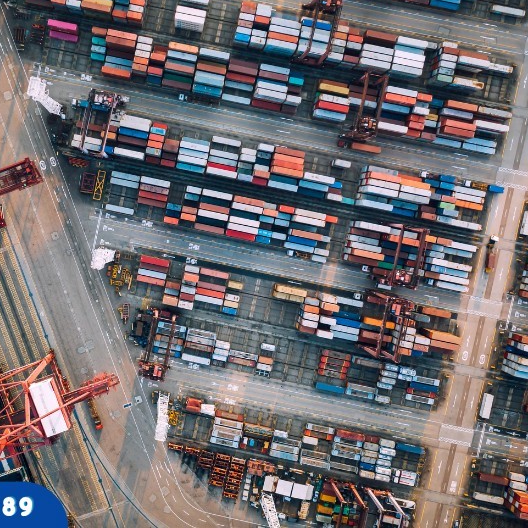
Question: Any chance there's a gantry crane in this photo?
Yes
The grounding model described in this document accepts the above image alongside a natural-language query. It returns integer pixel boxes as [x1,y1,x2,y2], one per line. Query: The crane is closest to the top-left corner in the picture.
[78,84,127,162]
